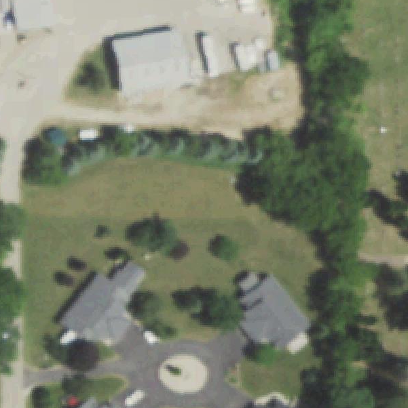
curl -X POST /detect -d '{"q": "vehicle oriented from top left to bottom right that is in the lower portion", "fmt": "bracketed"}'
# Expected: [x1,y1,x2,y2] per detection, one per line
[143,331,159,345]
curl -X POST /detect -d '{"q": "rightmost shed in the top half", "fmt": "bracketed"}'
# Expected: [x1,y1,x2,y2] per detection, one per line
[108,25,190,95]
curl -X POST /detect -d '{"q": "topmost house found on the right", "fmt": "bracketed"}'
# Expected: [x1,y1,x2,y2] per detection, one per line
[234,272,307,352]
